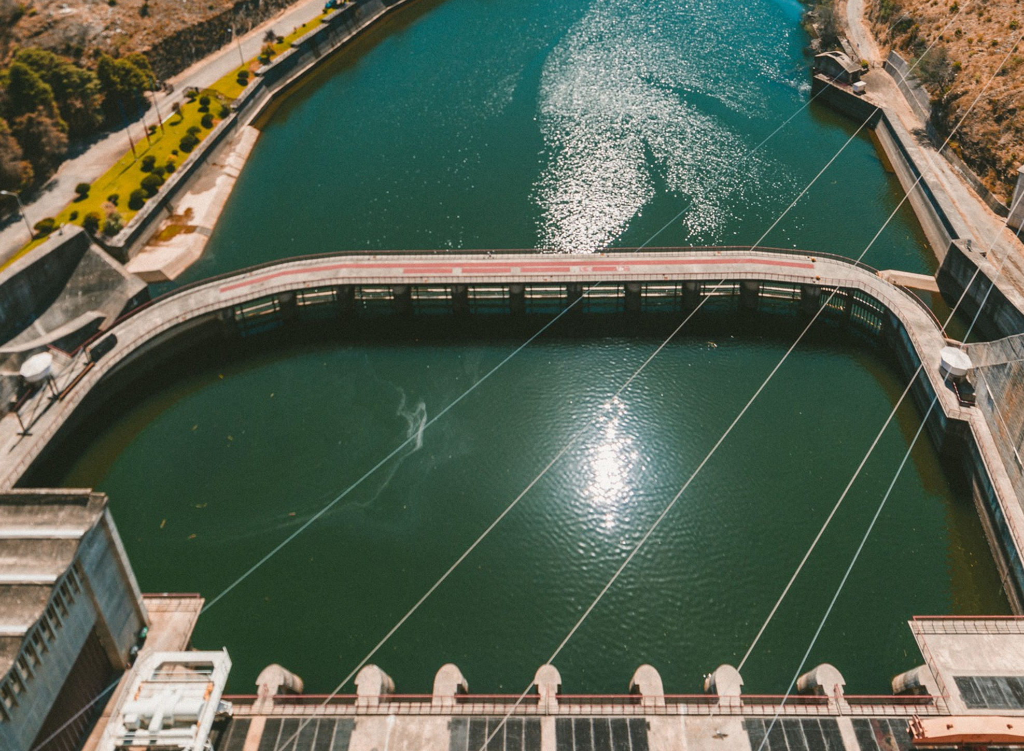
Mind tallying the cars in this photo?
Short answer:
zero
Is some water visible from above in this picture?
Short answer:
Yes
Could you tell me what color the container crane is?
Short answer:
white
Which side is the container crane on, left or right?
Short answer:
left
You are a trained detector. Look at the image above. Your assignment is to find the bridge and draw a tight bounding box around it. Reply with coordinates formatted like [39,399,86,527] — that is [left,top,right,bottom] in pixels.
[0,251,948,491]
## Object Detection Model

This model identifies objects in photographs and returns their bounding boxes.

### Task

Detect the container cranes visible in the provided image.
[112,649,247,751]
